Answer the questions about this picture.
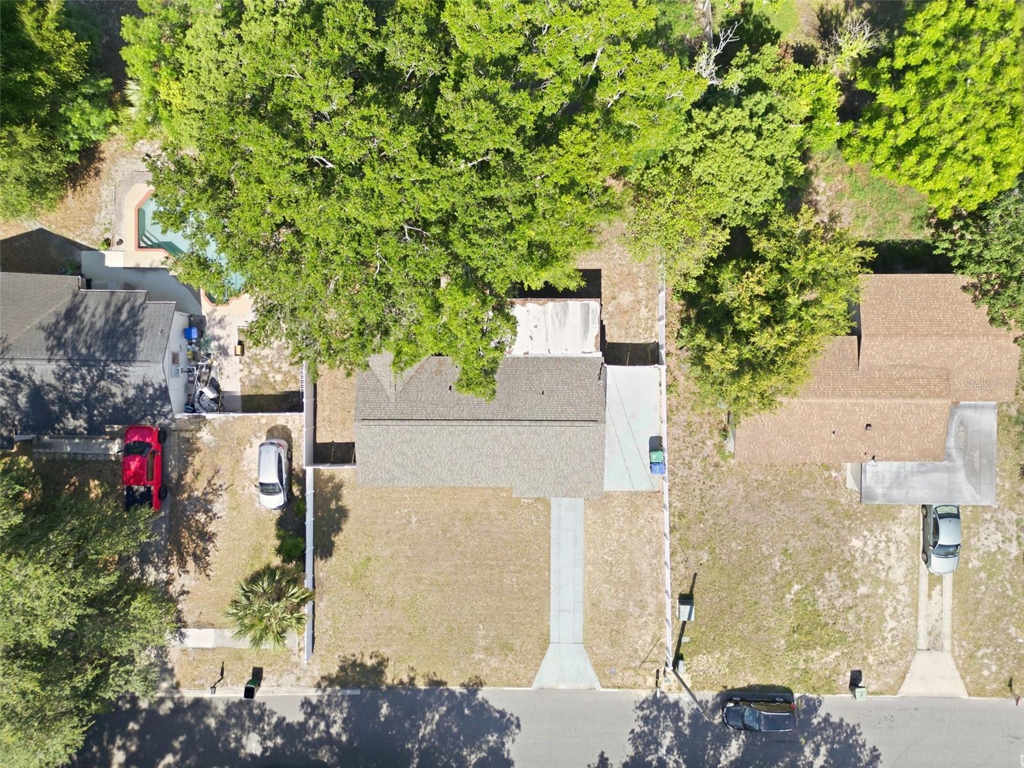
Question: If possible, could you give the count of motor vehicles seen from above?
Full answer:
Looking from above, you can make out 4 motor vehicles.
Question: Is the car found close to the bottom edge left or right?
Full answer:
The car found close to the bottom edge sits on the right side.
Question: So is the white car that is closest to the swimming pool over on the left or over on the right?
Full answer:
The white car that is closest to the swimming pool is on the left side of the image.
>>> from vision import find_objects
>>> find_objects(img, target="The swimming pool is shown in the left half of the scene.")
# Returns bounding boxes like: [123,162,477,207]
[133,189,259,310]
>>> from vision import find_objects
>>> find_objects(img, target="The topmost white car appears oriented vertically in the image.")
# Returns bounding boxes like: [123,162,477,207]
[255,439,291,509]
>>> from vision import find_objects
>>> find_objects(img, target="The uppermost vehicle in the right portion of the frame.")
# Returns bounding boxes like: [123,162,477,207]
[923,505,964,574]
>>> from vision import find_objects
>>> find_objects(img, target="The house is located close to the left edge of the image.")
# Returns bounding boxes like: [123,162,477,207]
[0,270,190,449]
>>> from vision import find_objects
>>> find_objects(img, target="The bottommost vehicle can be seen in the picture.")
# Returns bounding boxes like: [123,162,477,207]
[721,698,796,737]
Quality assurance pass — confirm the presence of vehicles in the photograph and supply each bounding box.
[923,505,964,574]
[255,439,291,509]
[122,425,164,509]
[721,698,796,737]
